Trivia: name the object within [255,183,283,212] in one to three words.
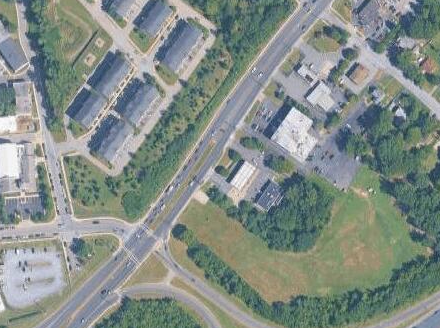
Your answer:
building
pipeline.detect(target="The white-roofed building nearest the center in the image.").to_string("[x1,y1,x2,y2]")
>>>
[230,161,257,191]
